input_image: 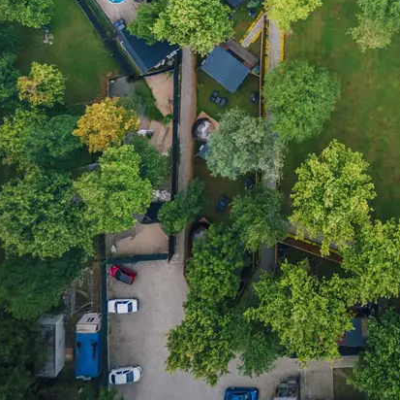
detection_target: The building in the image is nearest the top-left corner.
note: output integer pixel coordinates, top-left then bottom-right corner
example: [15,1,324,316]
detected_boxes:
[119,27,178,74]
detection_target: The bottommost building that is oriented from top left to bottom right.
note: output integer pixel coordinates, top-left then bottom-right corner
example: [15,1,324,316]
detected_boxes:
[194,142,231,185]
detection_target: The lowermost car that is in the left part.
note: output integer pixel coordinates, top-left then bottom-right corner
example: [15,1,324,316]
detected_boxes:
[110,365,141,384]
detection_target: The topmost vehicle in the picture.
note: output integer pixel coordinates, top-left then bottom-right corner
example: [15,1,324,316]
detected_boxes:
[109,266,137,285]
